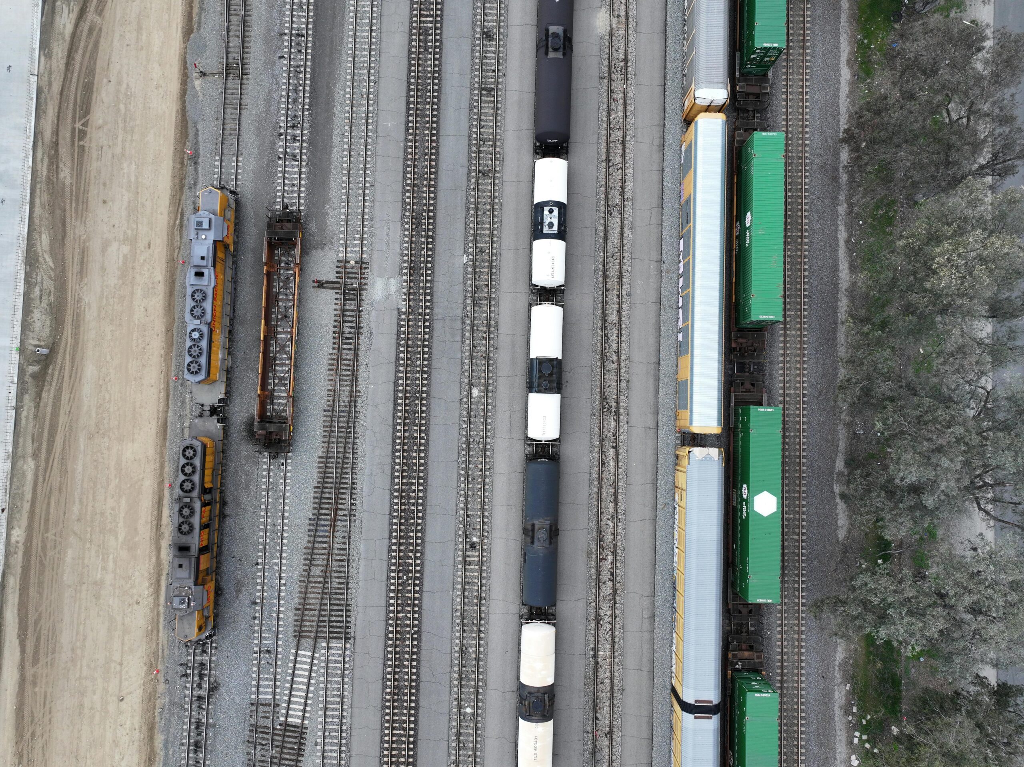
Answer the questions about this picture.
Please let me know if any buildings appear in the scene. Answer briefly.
No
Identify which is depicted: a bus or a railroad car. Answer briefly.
railroad car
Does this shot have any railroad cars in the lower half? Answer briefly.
Yes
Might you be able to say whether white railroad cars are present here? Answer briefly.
Yes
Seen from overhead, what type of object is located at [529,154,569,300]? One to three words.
rail car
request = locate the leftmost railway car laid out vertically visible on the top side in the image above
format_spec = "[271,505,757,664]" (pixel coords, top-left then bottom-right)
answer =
[183,183,241,410]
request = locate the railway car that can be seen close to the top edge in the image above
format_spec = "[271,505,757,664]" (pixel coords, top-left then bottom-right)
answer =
[534,0,573,158]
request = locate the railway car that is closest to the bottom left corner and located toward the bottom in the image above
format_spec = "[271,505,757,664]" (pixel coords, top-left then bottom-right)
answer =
[165,412,229,648]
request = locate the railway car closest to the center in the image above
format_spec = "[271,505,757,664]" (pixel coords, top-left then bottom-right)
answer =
[525,297,565,451]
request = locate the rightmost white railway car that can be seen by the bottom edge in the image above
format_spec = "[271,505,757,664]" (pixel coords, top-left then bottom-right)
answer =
[517,608,557,767]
